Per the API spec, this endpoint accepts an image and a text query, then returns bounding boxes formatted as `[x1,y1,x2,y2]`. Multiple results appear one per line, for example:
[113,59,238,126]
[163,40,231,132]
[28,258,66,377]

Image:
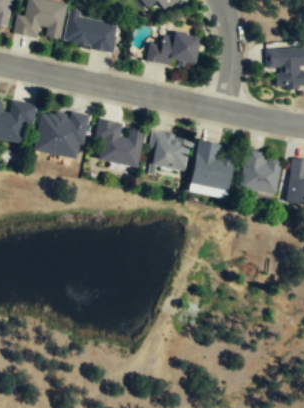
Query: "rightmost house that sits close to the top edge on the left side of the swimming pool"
[64,6,115,54]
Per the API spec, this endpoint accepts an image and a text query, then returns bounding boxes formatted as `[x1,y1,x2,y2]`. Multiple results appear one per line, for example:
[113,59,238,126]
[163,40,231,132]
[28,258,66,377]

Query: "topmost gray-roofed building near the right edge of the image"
[268,46,304,88]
